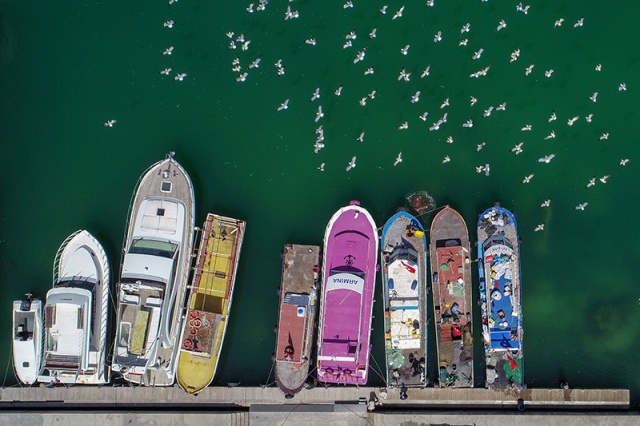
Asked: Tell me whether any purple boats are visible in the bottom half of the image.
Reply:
Yes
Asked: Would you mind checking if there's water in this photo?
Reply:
Yes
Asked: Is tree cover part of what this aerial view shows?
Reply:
No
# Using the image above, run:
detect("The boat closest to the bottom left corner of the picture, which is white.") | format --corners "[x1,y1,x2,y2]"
[12,294,48,385]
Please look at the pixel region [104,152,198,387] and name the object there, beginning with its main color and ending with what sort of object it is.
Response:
white boat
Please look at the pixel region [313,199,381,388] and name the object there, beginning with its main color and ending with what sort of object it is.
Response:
purple boat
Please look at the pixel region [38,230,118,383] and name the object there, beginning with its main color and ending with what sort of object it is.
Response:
white boat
